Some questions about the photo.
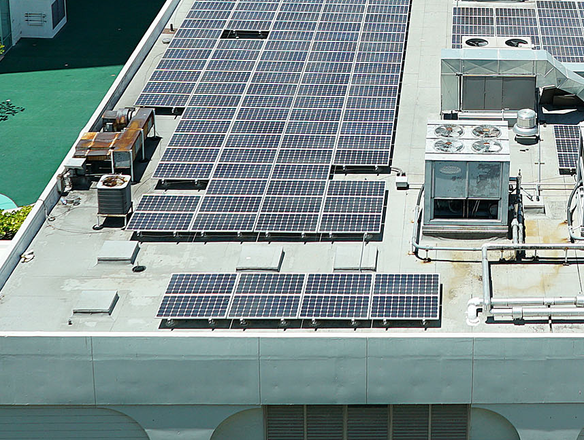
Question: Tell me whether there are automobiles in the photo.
No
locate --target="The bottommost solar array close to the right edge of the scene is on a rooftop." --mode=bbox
[554,126,582,181]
